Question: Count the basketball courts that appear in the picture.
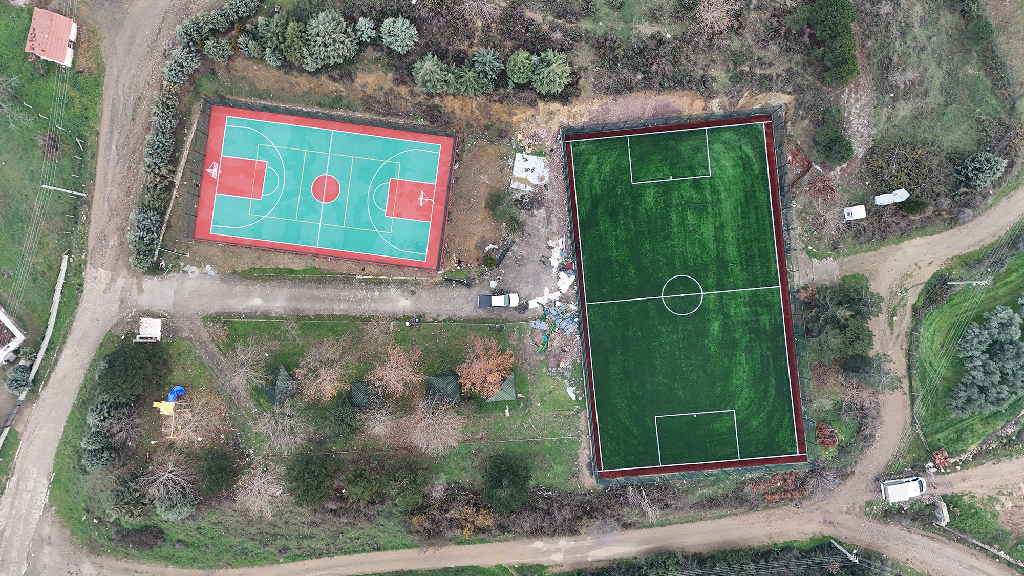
1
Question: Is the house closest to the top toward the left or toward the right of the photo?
left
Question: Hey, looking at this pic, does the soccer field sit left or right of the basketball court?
to its right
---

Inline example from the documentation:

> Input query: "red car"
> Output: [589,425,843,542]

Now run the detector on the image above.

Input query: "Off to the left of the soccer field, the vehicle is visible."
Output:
[477,287,519,309]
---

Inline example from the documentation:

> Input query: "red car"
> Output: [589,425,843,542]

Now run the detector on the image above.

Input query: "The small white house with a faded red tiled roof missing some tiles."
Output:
[23,7,84,67]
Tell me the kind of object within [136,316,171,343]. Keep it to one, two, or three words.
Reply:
shed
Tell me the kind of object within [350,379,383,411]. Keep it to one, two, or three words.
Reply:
building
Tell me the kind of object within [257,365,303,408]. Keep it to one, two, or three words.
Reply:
building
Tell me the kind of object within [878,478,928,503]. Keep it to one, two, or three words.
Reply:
truck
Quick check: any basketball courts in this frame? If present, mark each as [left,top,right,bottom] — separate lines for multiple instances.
[194,106,456,271]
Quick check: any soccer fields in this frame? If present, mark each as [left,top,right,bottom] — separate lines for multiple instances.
[566,115,806,478]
